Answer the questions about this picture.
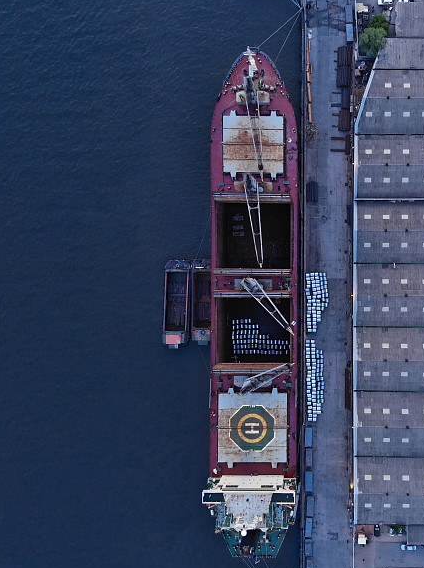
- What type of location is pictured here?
port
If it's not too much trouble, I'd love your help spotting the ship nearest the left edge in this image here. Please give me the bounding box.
[162,259,190,347]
